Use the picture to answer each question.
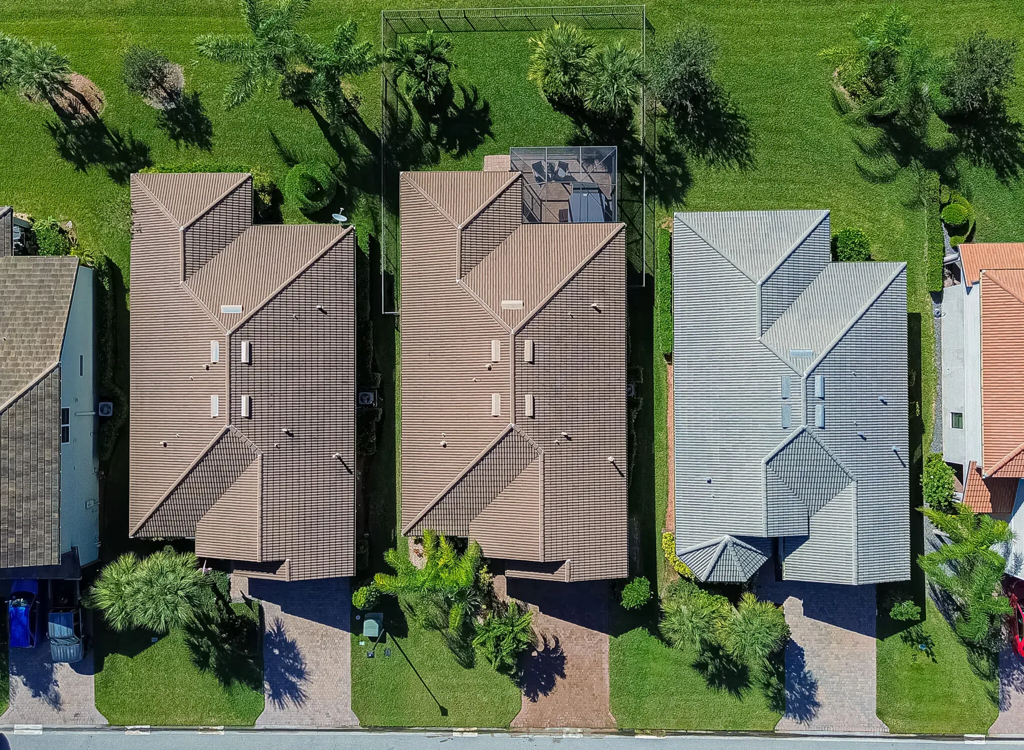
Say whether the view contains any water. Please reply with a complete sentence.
No, there is no water in the image.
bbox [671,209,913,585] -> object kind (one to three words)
house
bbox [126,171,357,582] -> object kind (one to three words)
house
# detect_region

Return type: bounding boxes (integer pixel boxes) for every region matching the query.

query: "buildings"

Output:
[671,209,913,585]
[400,169,629,583]
[940,243,1024,586]
[126,171,357,582]
[0,204,100,581]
